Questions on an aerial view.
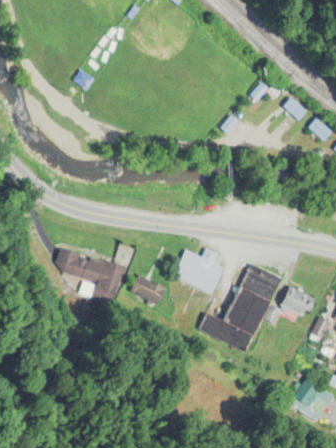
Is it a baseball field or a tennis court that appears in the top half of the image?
baseball field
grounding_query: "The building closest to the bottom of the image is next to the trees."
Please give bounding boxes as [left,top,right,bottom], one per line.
[294,382,334,419]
